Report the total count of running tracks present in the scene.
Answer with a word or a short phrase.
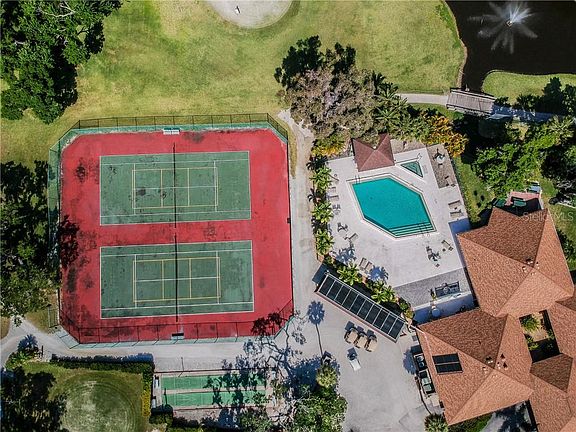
0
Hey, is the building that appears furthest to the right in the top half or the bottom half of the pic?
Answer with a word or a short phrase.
bottom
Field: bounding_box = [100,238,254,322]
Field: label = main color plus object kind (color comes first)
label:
green tennis court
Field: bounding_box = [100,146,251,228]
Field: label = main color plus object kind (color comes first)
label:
green tennis court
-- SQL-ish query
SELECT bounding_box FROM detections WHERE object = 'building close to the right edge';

[417,207,576,432]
